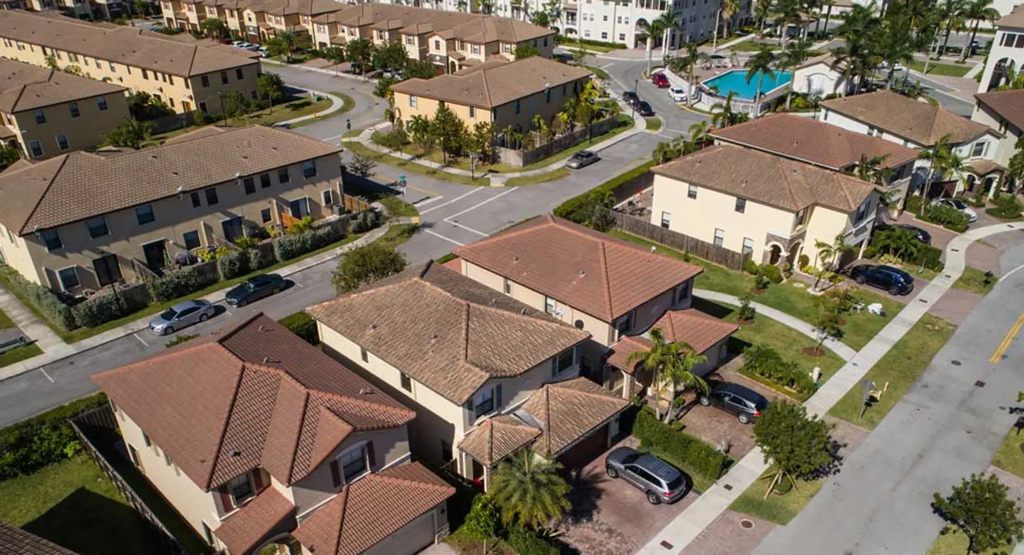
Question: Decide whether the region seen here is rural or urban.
urban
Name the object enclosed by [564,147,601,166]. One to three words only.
car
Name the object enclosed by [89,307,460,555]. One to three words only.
house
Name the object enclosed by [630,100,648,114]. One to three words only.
car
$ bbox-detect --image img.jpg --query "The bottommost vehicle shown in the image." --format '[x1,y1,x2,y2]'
[600,446,688,505]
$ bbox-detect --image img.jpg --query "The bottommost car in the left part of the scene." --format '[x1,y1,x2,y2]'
[145,299,214,335]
